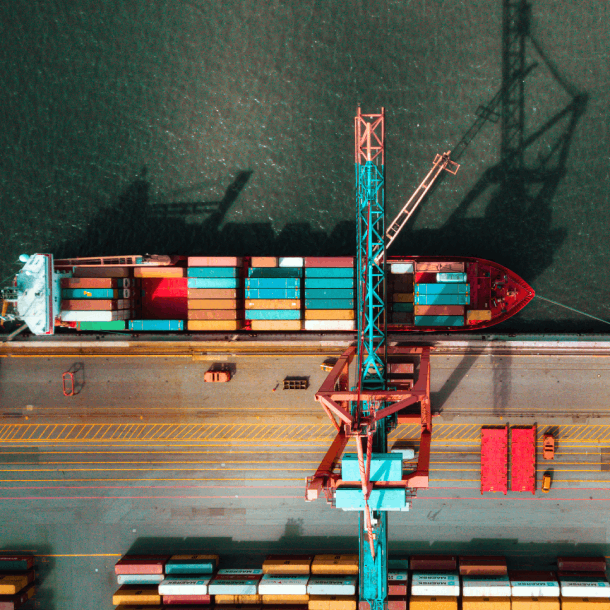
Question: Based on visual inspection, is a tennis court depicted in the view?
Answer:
No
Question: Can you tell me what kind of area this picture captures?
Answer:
port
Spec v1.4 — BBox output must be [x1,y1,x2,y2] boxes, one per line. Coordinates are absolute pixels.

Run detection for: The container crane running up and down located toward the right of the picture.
[306,105,438,610]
